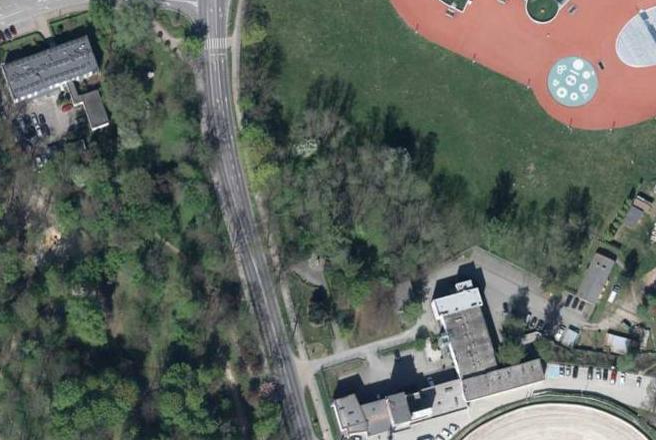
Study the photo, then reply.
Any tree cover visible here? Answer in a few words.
Yes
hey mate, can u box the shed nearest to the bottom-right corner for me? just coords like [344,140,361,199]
[606,334,628,355]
